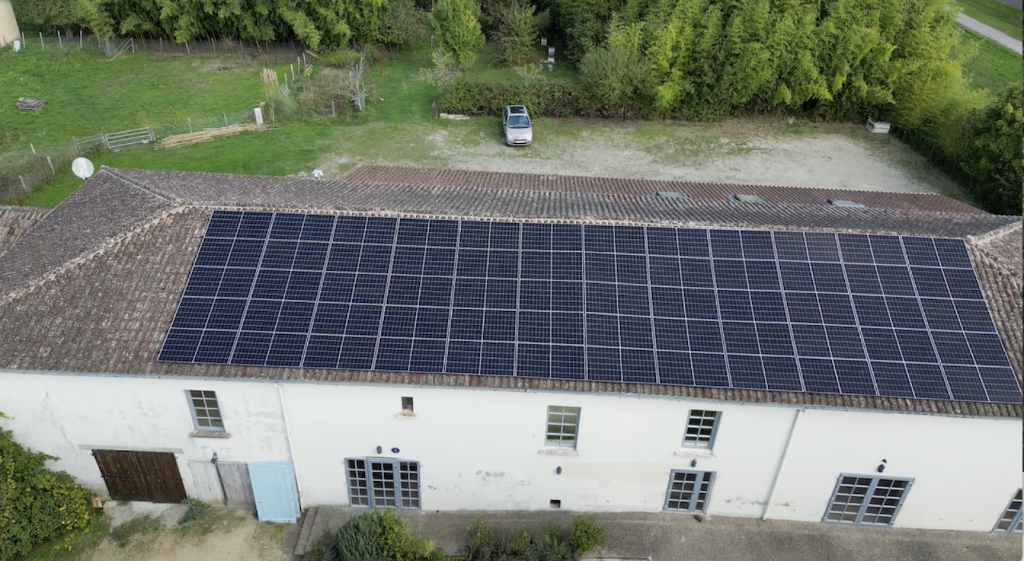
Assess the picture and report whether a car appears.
Yes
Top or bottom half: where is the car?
top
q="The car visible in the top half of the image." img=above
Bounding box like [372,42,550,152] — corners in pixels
[502,107,534,146]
